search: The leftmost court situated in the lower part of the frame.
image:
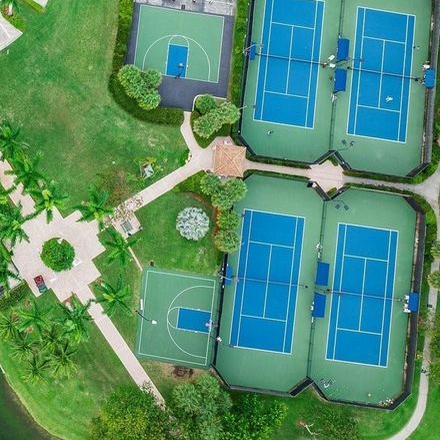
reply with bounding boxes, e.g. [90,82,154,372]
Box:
[135,268,224,369]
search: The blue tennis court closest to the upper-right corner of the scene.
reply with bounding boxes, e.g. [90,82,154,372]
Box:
[347,7,419,143]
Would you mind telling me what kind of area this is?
sports ground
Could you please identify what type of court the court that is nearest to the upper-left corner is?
basketball court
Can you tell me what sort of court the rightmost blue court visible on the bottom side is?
tennis court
